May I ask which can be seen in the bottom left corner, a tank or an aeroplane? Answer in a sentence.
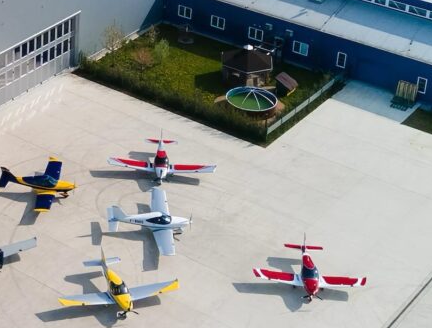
Visible in the bottom left corner is an aeroplane.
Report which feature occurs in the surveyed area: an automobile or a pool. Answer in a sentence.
This aerial view contains a pool.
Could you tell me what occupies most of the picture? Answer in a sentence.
For the most part, this view shows paved ground.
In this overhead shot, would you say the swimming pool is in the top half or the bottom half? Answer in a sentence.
The top half of the photo is where the swimming pool is.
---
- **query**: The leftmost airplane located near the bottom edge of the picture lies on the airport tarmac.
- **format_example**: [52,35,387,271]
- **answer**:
[58,243,177,317]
